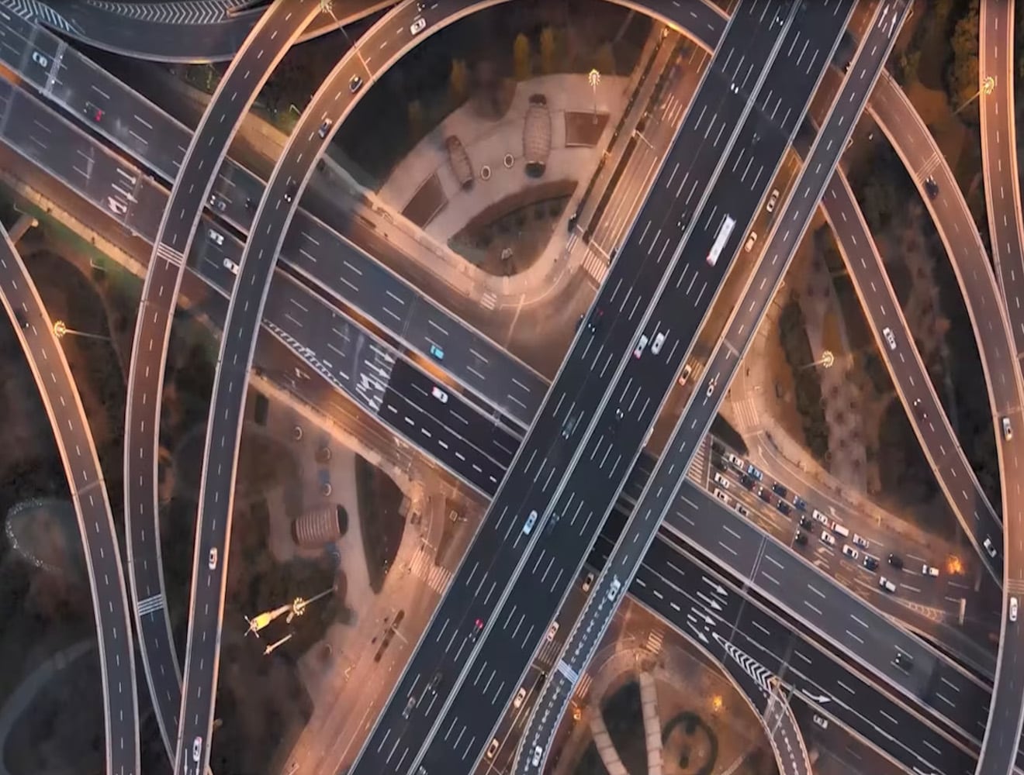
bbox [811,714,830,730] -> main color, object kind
gray car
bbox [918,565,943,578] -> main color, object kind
white vehicle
